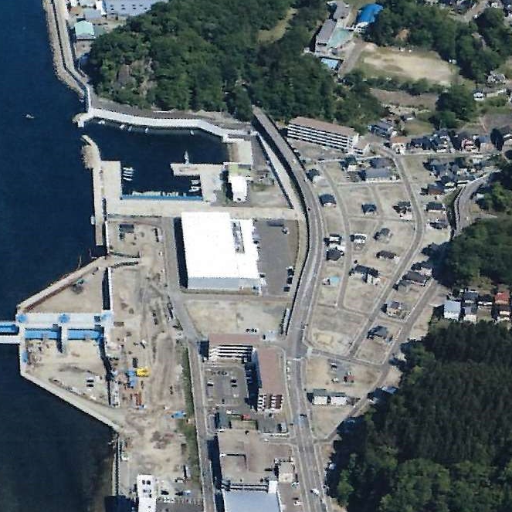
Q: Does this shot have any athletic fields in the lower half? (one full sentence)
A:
No, there's no athletic field to be seen in the lower half.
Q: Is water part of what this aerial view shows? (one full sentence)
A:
Yes, some water is visible.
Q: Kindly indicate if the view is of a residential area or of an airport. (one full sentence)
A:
What you see here is a residential area.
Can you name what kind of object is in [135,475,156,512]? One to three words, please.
building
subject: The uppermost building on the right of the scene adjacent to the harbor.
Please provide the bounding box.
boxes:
[286,116,353,152]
